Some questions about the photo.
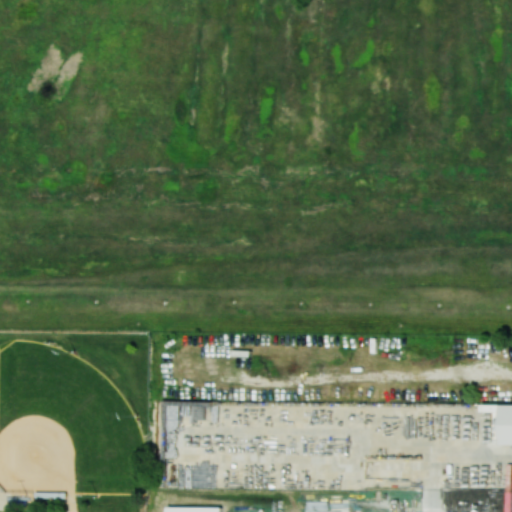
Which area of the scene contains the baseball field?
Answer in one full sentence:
The baseball field appears toward the bottom left of the photo.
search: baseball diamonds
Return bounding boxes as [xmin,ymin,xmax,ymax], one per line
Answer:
[0,342,142,512]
